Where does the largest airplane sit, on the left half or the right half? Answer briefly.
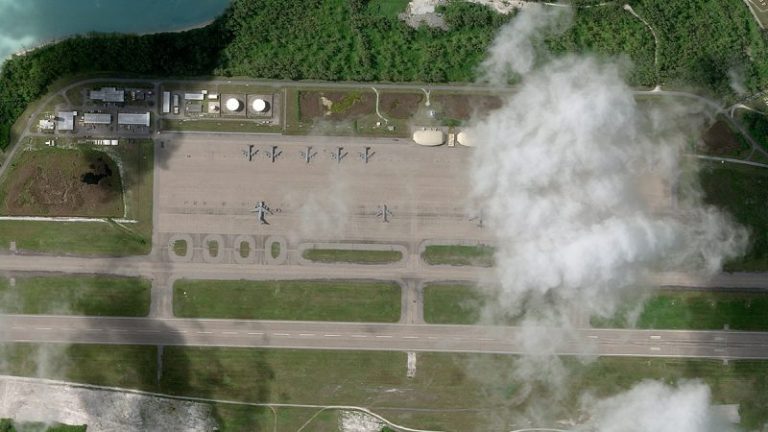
left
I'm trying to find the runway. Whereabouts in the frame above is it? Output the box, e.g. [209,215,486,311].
[0,316,768,358]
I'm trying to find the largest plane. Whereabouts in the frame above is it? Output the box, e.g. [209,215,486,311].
[249,202,272,224]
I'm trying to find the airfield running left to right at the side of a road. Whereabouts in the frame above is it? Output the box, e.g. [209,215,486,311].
[0,133,768,382]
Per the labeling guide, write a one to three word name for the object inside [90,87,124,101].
building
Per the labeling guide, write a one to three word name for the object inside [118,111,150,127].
building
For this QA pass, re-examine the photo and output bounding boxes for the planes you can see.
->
[376,205,394,222]
[358,147,375,164]
[242,145,258,161]
[300,146,316,164]
[249,202,272,224]
[266,146,282,163]
[331,147,347,164]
